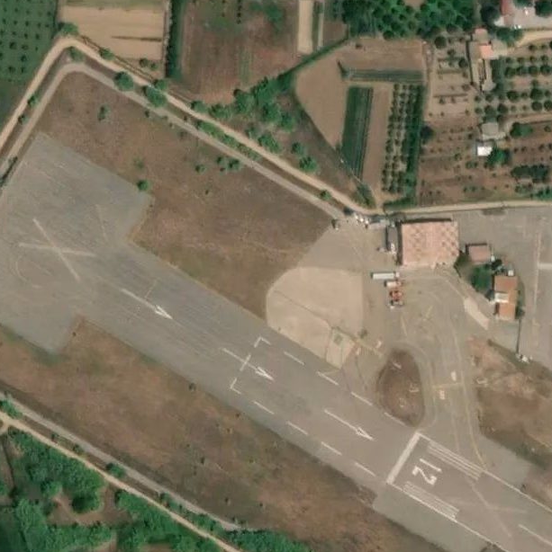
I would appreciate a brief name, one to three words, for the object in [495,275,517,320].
building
